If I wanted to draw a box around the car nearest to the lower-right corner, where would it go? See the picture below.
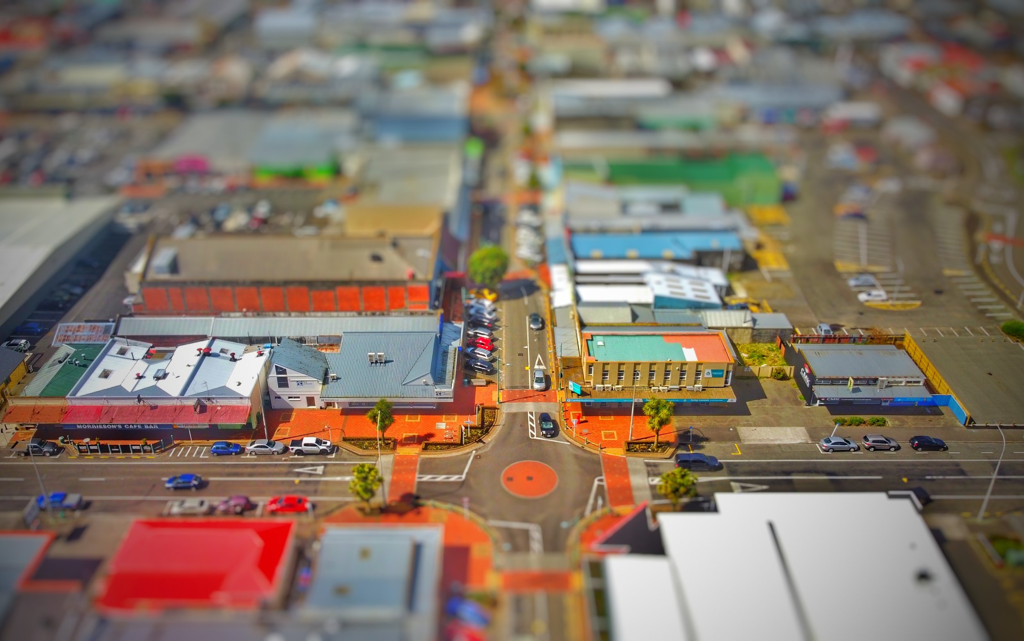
[903,487,945,508]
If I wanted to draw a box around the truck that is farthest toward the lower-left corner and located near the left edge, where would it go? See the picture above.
[37,490,88,511]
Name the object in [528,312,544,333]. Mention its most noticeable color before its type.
gray car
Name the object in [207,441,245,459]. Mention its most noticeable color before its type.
blue car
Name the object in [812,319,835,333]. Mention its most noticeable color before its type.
gray car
